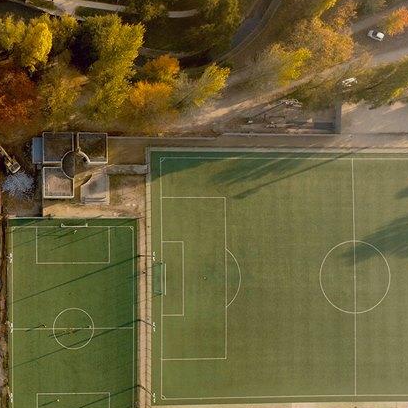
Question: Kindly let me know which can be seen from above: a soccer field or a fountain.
soccer field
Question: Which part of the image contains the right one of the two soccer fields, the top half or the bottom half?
bottom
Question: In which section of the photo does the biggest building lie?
left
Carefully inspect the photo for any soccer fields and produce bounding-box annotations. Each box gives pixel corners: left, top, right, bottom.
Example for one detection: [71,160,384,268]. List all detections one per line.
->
[151,153,408,404]
[8,219,137,408]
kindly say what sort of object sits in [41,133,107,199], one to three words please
building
